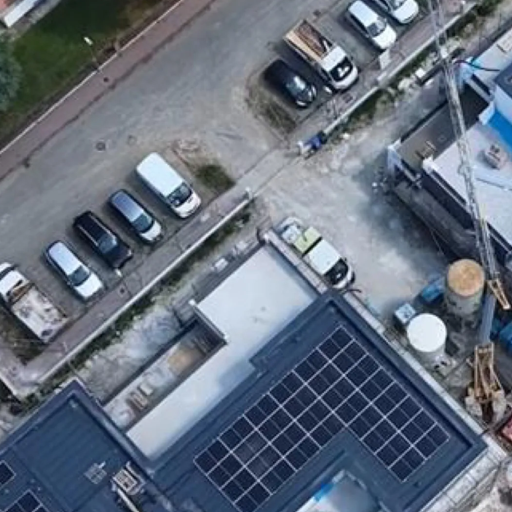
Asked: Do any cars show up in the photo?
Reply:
Yes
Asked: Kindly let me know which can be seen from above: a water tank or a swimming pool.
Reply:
water tank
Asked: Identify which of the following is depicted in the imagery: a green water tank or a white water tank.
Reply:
white water tank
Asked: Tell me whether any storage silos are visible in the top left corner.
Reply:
No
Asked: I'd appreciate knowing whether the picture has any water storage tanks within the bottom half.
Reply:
Yes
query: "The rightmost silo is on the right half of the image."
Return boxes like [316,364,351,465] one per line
[447,260,485,308]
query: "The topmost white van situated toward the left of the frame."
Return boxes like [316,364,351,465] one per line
[135,150,202,218]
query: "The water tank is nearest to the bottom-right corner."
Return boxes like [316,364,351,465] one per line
[407,314,447,359]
